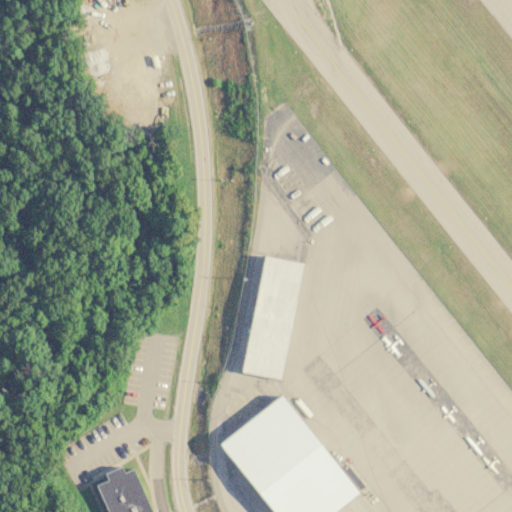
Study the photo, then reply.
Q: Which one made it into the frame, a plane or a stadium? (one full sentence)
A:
Visible in the photo is a plane.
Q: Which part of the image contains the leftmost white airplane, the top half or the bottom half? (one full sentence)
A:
The bottom half of the photo is where the leftmost white airplane is.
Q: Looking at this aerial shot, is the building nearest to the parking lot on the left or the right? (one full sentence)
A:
The building nearest to the parking lot appears in the left half of the scene.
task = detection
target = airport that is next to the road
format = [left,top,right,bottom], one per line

[210,0,512,512]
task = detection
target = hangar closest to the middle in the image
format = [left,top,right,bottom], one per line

[242,258,304,379]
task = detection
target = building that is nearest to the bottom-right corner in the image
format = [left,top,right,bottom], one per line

[221,397,360,512]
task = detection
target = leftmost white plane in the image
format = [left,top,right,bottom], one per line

[382,336,404,358]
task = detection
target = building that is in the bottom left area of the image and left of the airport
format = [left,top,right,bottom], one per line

[98,468,153,512]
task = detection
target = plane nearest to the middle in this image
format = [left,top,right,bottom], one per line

[368,314,387,334]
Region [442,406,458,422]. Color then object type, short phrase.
white airplane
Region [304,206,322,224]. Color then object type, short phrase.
white vehicle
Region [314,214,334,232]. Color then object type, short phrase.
white vehicle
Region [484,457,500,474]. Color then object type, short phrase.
white airplane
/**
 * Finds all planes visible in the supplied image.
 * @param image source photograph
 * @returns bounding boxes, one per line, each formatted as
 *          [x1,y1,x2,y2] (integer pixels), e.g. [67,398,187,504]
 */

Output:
[419,380,436,398]
[368,314,387,334]
[382,336,404,358]
[484,457,500,474]
[466,436,484,456]
[442,406,458,422]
